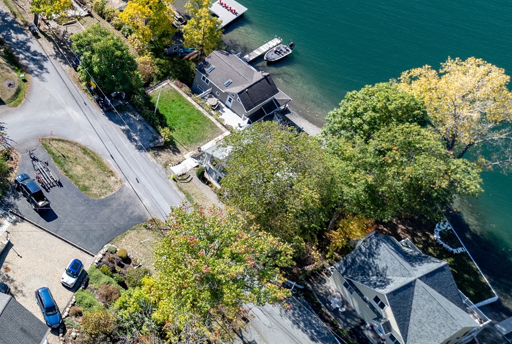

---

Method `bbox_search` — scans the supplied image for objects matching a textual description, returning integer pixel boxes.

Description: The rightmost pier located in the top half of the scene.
[242,34,283,63]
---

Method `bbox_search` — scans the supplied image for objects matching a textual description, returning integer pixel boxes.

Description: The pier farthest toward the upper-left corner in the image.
[208,0,248,34]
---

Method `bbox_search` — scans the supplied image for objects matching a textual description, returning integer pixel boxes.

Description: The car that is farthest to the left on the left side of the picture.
[0,272,14,294]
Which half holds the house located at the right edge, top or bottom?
bottom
